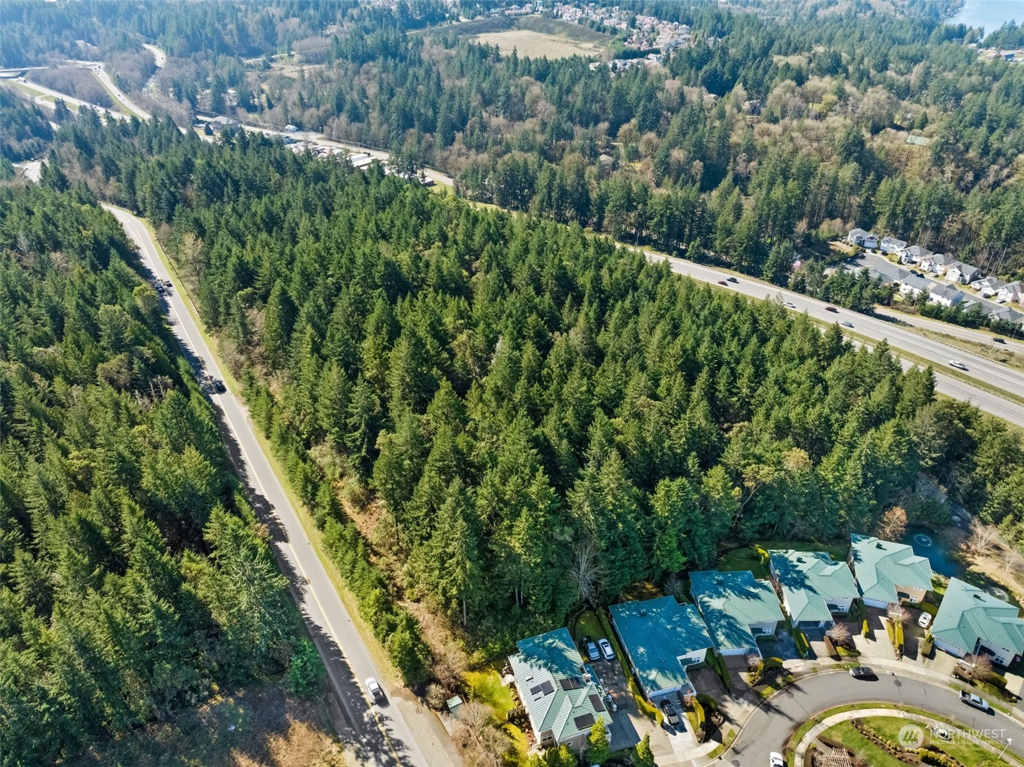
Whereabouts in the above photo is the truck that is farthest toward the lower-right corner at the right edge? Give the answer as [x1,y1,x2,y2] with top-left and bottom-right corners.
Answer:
[956,688,992,712]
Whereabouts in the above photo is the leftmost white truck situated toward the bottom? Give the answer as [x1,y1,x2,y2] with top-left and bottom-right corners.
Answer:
[366,677,387,706]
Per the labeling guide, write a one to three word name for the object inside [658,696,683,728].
truck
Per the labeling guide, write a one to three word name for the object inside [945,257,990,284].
house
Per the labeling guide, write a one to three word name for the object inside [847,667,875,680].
vehicle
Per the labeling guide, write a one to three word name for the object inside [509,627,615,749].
building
